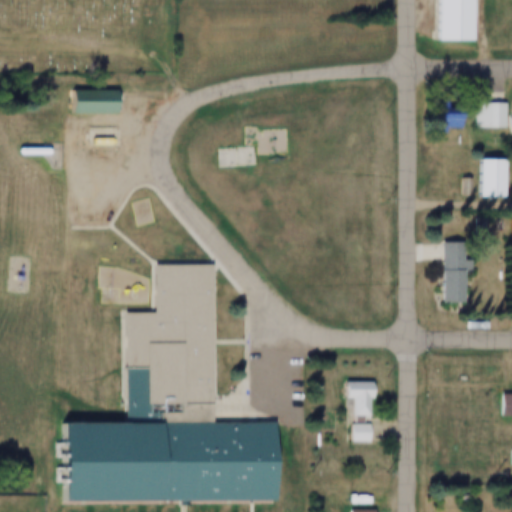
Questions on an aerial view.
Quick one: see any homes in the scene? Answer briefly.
Yes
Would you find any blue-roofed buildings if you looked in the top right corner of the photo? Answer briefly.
Yes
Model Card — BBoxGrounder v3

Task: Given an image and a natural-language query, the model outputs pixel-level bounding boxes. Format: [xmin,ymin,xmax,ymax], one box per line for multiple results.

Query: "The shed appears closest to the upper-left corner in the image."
[74,90,123,113]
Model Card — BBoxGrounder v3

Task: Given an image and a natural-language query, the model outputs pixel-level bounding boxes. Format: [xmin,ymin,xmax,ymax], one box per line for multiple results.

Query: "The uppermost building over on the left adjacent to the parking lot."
[122,264,218,423]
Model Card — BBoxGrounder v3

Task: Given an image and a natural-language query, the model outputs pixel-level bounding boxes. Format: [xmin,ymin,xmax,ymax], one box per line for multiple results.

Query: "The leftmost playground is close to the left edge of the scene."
[8,256,30,294]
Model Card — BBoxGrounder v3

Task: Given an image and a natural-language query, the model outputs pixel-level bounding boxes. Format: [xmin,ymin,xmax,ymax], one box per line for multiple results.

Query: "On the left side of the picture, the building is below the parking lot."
[56,422,282,501]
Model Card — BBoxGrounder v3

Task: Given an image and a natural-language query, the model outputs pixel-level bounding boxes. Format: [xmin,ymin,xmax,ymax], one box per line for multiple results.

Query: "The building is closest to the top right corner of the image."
[436,0,478,42]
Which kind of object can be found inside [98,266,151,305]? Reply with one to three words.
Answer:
playground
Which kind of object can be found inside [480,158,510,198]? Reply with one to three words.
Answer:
shed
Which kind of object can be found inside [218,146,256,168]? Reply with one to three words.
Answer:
basketball court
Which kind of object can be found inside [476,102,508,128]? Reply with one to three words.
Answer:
house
